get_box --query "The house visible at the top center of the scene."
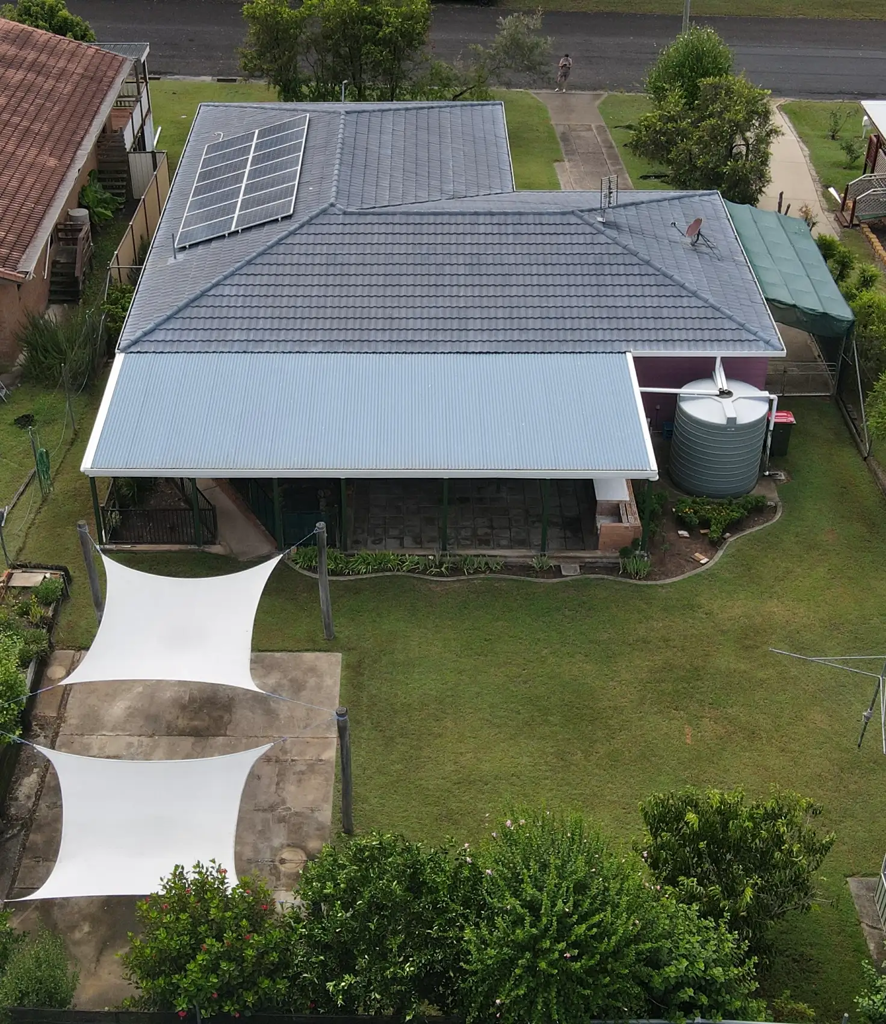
[115,101,789,424]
